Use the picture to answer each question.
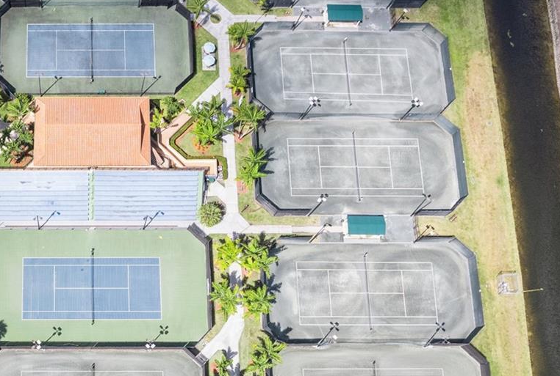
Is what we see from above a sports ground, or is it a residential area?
sports ground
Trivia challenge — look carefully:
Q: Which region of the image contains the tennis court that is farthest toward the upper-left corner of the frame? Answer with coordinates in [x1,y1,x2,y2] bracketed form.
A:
[0,0,193,86]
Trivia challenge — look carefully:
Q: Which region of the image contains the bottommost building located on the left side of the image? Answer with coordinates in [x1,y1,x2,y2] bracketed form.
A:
[33,96,151,169]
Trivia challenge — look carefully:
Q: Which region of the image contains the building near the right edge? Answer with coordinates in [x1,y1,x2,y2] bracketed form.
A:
[498,269,544,295]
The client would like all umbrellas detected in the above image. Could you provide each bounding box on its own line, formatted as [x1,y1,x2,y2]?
[203,42,216,55]
[203,56,216,69]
